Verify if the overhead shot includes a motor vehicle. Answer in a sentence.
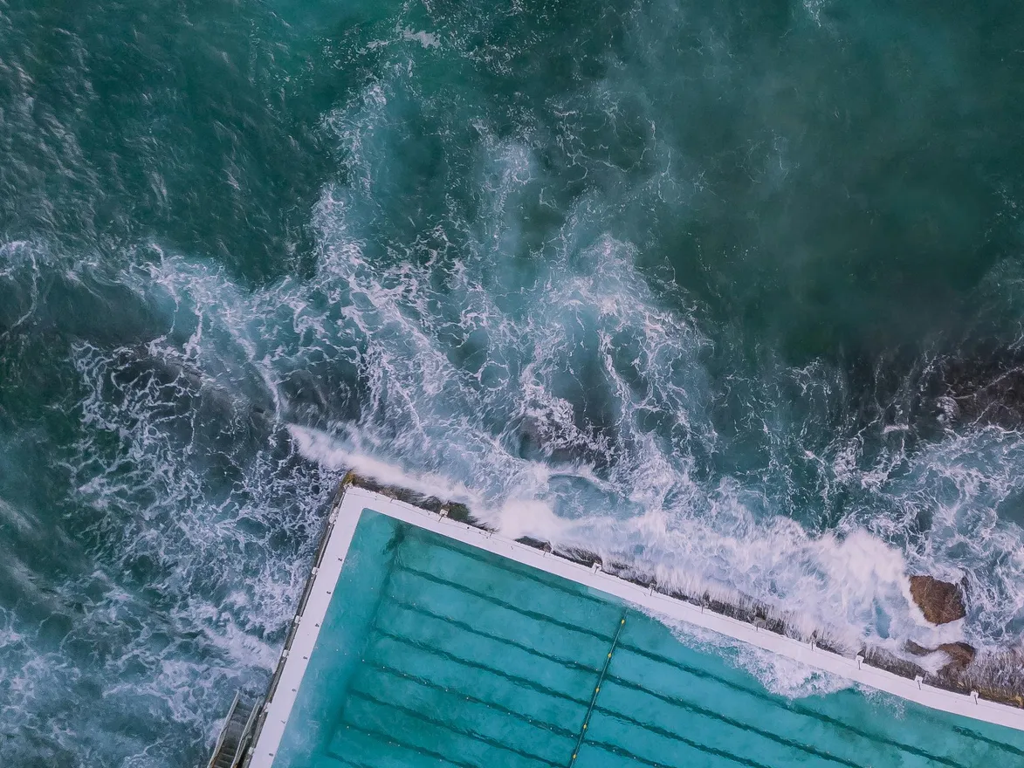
No, this view has no motor vehicle in it.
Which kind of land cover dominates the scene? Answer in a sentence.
The scene is dominated by water.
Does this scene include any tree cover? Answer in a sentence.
No, no tree cover is visible.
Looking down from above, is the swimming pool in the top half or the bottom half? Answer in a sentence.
It is in the bottom half that the swimming pool appears.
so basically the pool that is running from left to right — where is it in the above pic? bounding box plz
[272,511,1024,768]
